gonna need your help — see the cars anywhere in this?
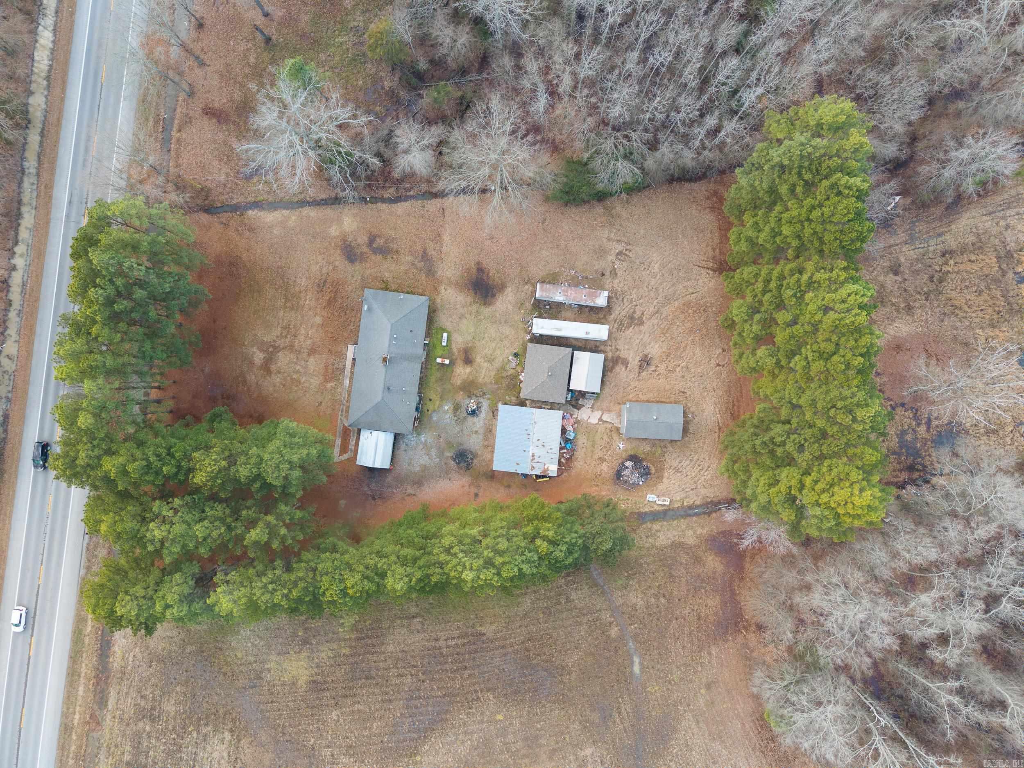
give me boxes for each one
[34,442,52,470]
[12,609,29,633]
